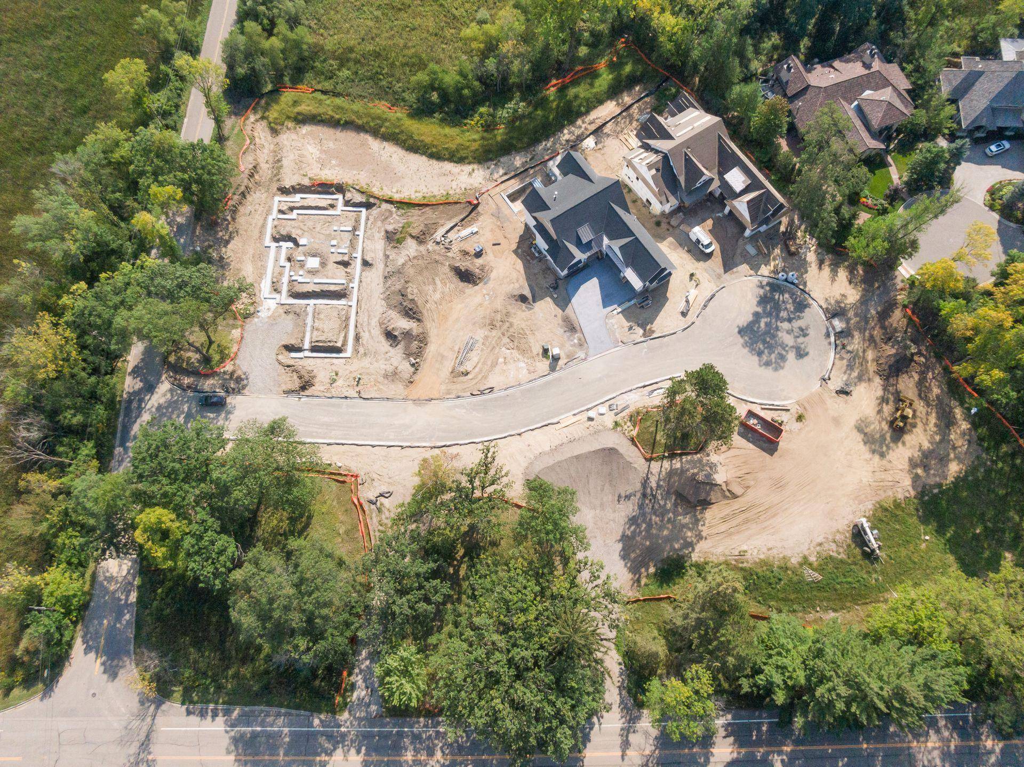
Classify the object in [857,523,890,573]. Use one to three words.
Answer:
work vehicle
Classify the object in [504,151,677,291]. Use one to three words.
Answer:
house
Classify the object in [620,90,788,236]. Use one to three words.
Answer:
house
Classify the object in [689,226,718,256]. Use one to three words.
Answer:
van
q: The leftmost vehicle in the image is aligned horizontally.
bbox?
[198,394,226,407]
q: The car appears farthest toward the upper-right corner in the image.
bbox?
[986,141,1012,158]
